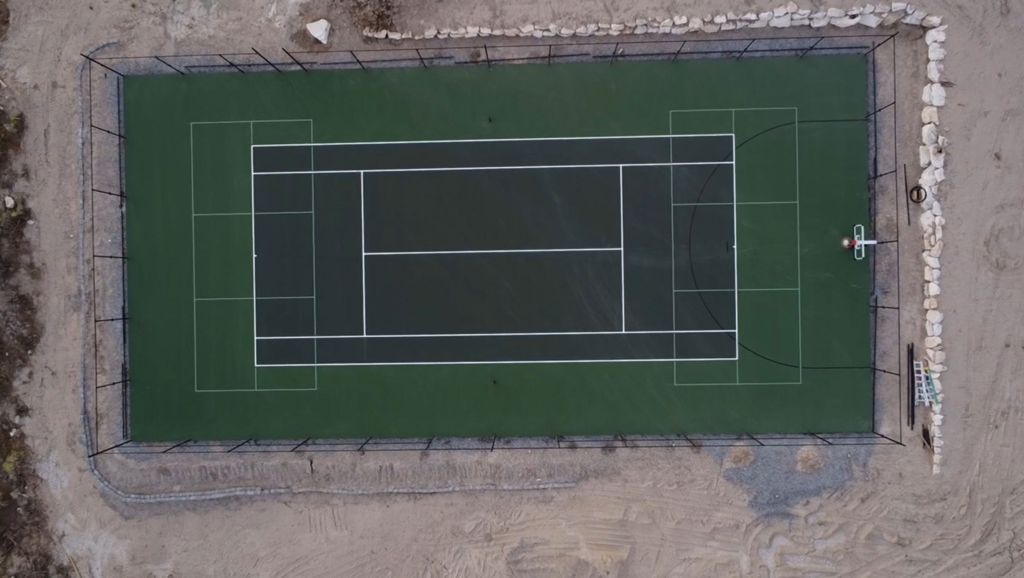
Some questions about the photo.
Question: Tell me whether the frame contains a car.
No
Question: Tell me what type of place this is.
sports ground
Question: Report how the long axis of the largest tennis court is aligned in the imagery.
from left to right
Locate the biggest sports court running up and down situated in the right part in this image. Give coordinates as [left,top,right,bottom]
[670,107,801,385]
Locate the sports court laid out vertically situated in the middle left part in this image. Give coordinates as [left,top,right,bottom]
[191,119,317,391]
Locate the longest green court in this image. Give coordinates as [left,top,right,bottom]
[124,55,873,441]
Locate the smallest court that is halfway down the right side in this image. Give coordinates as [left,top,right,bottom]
[689,119,871,368]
